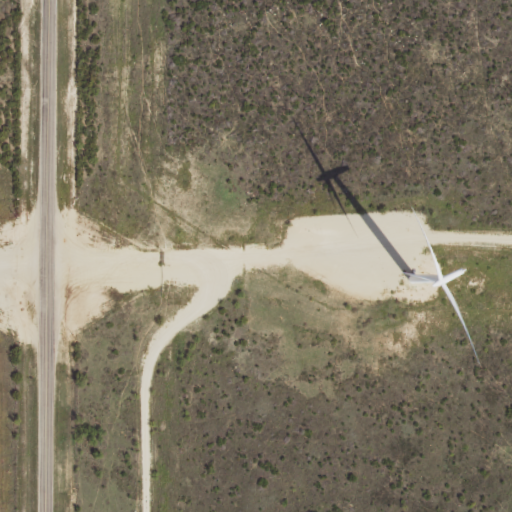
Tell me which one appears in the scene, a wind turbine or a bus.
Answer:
wind turbine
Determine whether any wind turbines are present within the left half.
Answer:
No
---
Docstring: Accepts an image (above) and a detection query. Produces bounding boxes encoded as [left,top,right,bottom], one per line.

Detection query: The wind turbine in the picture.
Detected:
[404,212,483,364]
